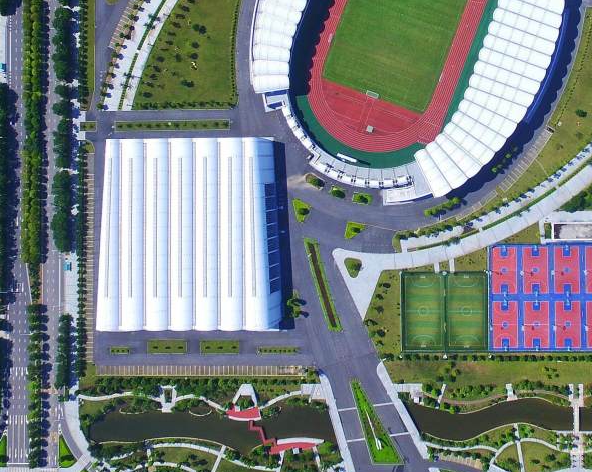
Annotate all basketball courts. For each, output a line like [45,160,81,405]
[493,248,516,294]
[584,248,592,294]
[523,301,548,348]
[493,301,516,348]
[554,301,580,348]
[523,248,548,294]
[554,248,580,294]
[584,301,592,348]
